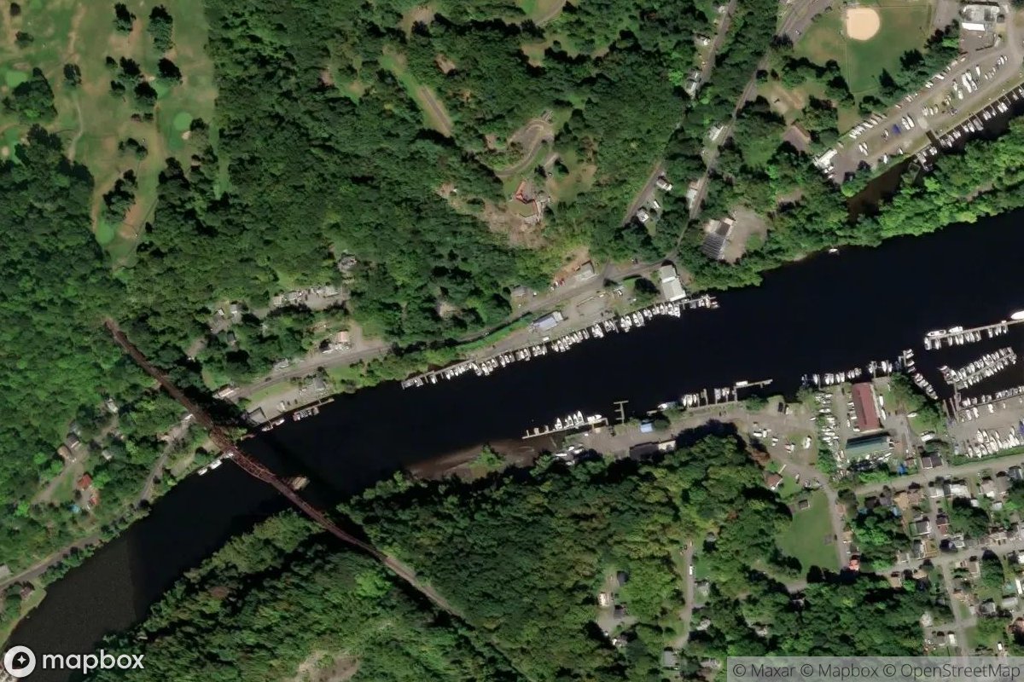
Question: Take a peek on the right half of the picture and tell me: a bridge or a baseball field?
baseball field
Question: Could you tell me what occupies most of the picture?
trees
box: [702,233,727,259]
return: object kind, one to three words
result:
building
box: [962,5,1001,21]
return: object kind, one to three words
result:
building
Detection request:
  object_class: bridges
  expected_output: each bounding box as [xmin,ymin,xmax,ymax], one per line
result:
[103,320,387,559]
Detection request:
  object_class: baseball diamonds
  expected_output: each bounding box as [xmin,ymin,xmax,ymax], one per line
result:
[839,1,930,92]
